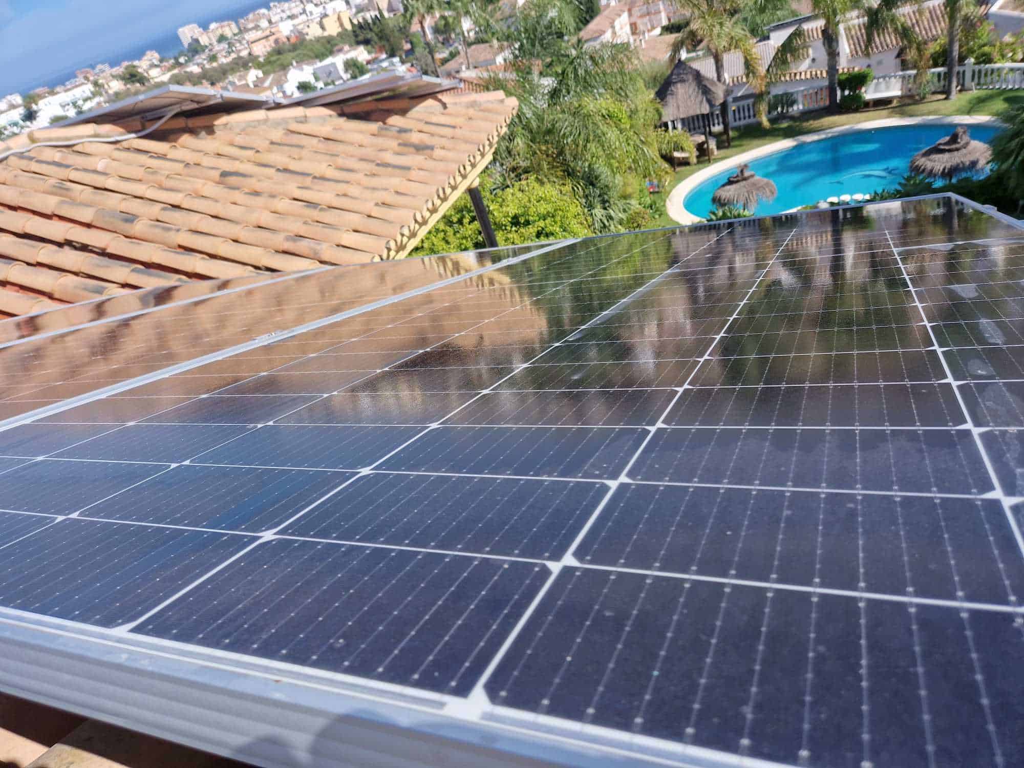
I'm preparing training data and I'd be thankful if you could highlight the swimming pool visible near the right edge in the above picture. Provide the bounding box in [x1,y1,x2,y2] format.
[666,117,1003,225]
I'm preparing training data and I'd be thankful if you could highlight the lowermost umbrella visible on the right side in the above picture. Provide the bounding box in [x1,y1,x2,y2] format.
[709,164,779,219]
